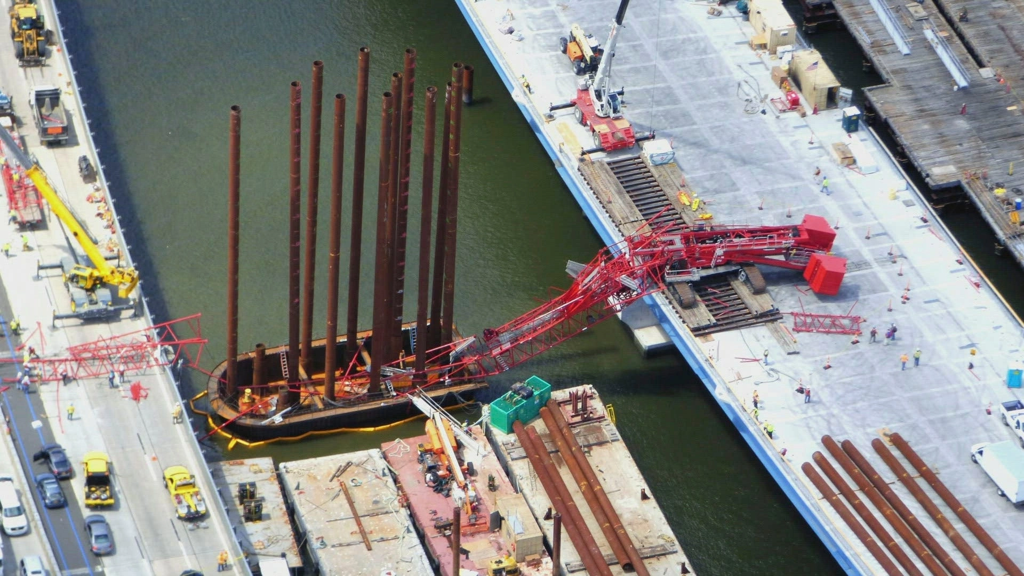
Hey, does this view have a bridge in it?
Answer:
Yes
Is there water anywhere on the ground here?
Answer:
Yes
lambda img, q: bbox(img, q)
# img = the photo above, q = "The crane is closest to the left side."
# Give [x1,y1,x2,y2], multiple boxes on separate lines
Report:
[0,120,152,338]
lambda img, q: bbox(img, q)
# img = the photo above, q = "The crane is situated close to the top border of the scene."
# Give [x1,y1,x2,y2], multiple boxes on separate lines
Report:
[551,0,662,160]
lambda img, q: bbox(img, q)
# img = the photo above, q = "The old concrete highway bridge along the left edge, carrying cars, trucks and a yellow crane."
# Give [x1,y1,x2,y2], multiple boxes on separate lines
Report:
[0,0,254,576]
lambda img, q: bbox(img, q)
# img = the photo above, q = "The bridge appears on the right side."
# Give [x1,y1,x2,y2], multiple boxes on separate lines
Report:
[442,0,1024,576]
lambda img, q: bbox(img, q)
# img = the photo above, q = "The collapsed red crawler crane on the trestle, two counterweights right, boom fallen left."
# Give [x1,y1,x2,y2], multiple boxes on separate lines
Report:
[238,207,847,415]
